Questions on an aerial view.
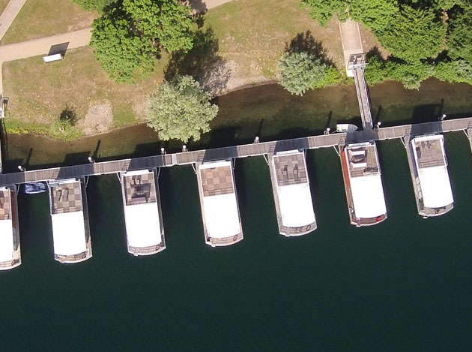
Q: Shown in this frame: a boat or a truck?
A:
boat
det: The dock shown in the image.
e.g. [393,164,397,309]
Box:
[0,117,472,197]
